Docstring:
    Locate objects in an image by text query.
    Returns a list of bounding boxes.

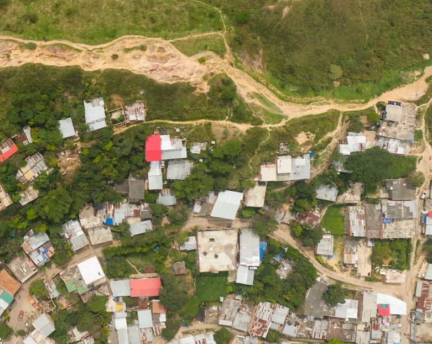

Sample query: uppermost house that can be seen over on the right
[370,101,417,141]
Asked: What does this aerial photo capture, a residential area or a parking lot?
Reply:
residential area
